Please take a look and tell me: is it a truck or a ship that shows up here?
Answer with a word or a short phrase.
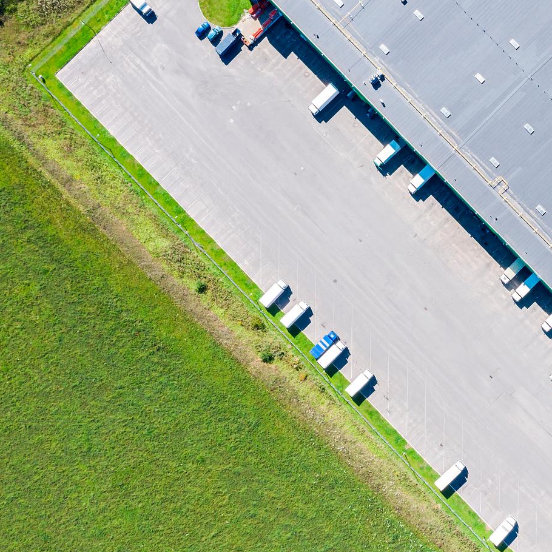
truck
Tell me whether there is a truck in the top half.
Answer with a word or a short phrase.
Yes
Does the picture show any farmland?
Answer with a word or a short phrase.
No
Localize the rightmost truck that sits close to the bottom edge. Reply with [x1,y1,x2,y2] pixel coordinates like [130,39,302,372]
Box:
[490,514,517,544]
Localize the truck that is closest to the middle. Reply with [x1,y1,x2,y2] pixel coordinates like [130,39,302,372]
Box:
[260,278,290,307]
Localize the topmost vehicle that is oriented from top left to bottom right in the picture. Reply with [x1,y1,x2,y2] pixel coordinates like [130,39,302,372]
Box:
[131,0,154,16]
